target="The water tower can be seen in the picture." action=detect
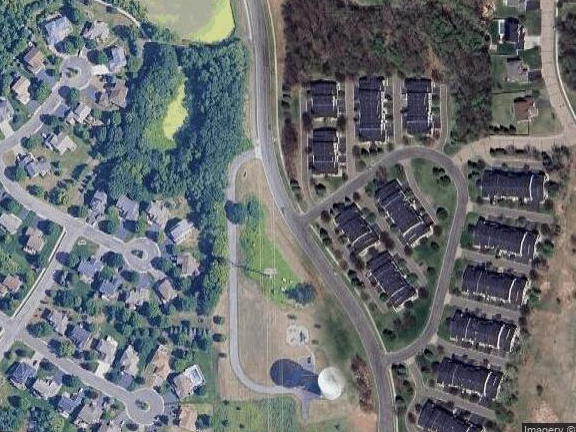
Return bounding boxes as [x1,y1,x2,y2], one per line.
[316,368,346,397]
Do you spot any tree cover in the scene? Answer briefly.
Yes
